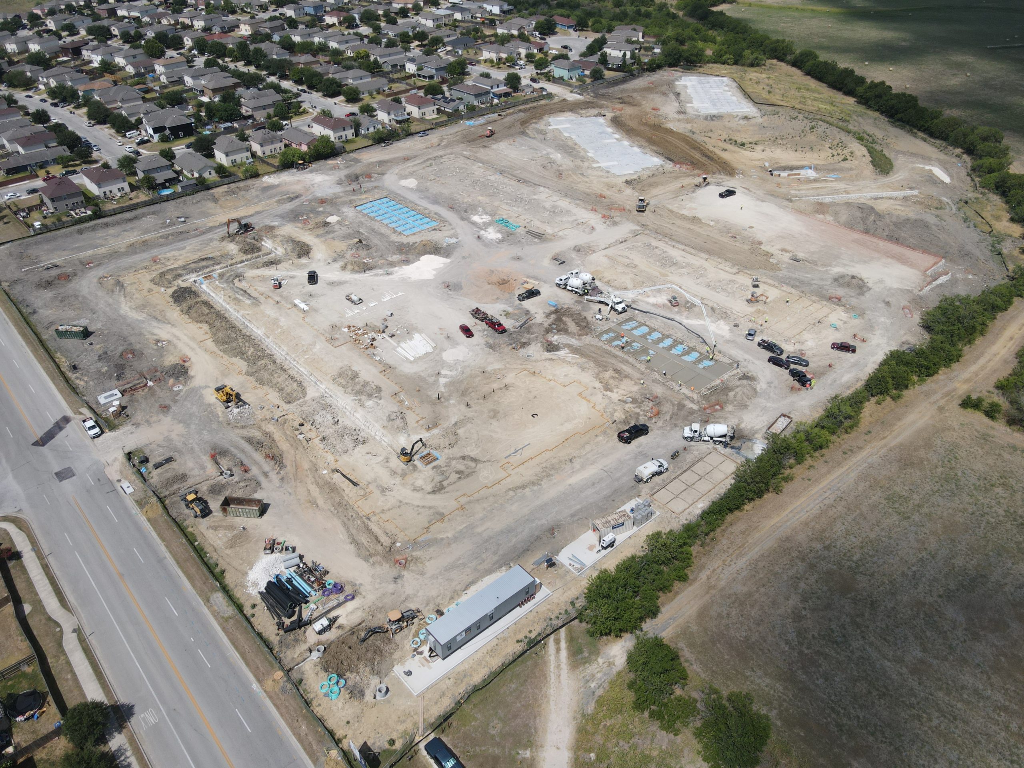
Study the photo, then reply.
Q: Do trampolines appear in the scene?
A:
Yes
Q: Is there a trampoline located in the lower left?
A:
Yes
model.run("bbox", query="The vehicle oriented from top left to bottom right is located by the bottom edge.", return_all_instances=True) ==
[422,731,462,768]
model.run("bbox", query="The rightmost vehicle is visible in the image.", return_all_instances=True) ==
[829,342,858,354]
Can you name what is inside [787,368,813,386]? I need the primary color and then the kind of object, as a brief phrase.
black vehicle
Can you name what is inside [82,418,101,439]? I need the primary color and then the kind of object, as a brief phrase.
white vehicle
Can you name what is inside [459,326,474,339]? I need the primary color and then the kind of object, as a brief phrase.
red vehicle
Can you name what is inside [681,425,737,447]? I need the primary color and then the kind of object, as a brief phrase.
white truck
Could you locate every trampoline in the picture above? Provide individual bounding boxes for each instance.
[5,684,43,718]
